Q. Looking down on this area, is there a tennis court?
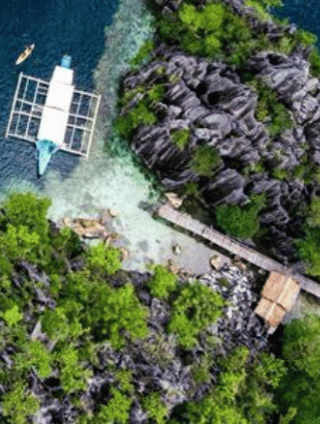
No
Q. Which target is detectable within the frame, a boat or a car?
boat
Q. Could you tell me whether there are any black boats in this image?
No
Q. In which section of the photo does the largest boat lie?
top left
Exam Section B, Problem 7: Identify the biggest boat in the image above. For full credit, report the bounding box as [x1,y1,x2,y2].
[5,55,100,175]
